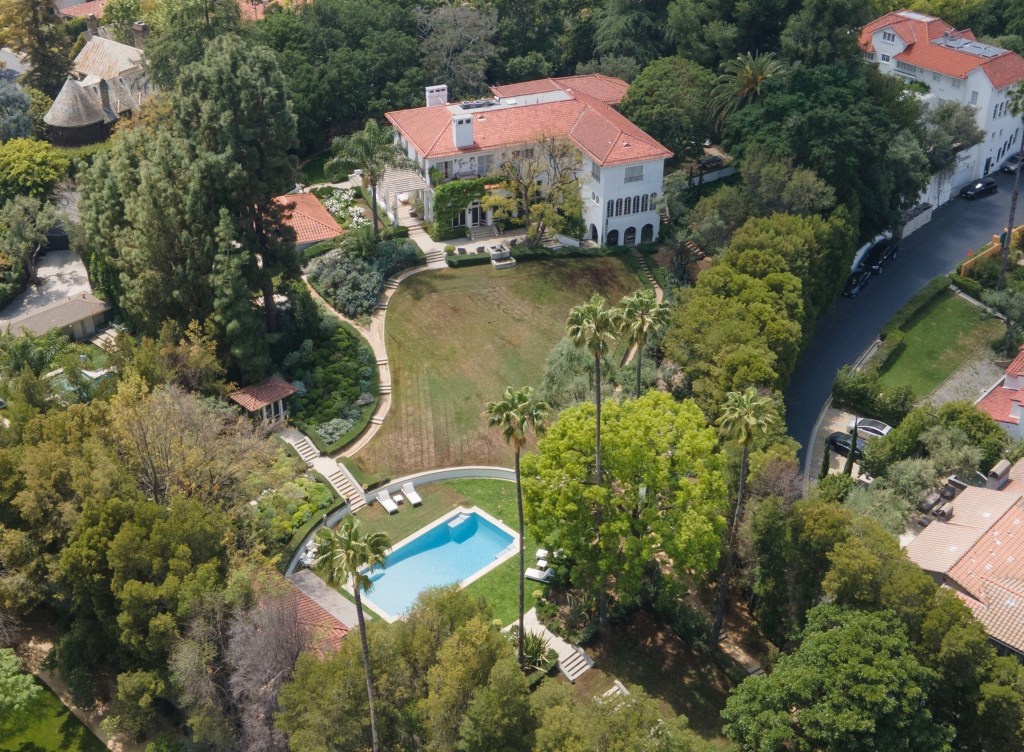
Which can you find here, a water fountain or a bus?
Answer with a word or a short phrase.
water fountain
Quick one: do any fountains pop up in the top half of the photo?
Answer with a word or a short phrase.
Yes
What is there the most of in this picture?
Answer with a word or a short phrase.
trees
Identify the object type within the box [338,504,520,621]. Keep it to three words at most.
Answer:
swimming pool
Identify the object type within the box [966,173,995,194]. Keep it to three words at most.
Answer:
car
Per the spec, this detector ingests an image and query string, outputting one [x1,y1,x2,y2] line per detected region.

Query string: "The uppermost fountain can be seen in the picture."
[486,248,515,273]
